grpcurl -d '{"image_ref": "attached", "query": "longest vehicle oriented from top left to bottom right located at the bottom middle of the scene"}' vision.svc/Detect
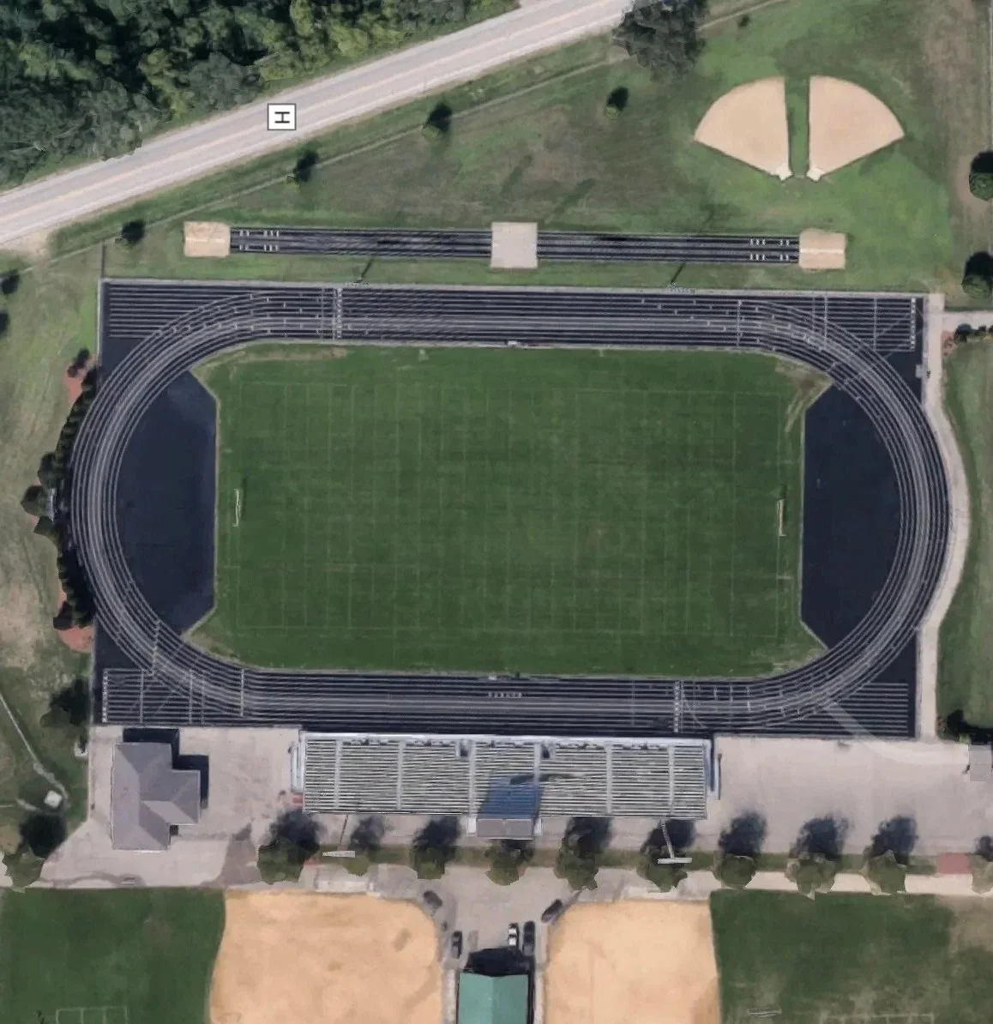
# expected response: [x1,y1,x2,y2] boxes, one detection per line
[422,888,444,910]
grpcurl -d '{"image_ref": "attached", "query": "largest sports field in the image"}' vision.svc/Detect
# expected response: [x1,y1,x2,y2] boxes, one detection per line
[184,344,831,678]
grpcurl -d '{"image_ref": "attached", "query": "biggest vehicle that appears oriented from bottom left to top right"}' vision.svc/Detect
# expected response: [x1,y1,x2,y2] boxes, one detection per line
[542,898,564,921]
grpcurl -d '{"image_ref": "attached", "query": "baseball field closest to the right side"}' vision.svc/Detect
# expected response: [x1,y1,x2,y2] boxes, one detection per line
[808,76,905,181]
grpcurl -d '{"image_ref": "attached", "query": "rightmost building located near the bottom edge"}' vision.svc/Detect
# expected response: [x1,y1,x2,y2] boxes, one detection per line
[459,967,529,1024]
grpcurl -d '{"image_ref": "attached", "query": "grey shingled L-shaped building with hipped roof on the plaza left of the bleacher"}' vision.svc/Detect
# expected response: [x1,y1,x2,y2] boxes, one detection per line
[112,740,200,850]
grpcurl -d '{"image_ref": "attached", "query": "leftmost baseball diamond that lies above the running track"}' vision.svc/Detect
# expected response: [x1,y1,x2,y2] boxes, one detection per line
[694,77,791,181]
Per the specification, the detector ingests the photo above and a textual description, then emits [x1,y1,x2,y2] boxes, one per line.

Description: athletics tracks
[61,285,952,737]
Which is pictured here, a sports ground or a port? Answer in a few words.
sports ground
